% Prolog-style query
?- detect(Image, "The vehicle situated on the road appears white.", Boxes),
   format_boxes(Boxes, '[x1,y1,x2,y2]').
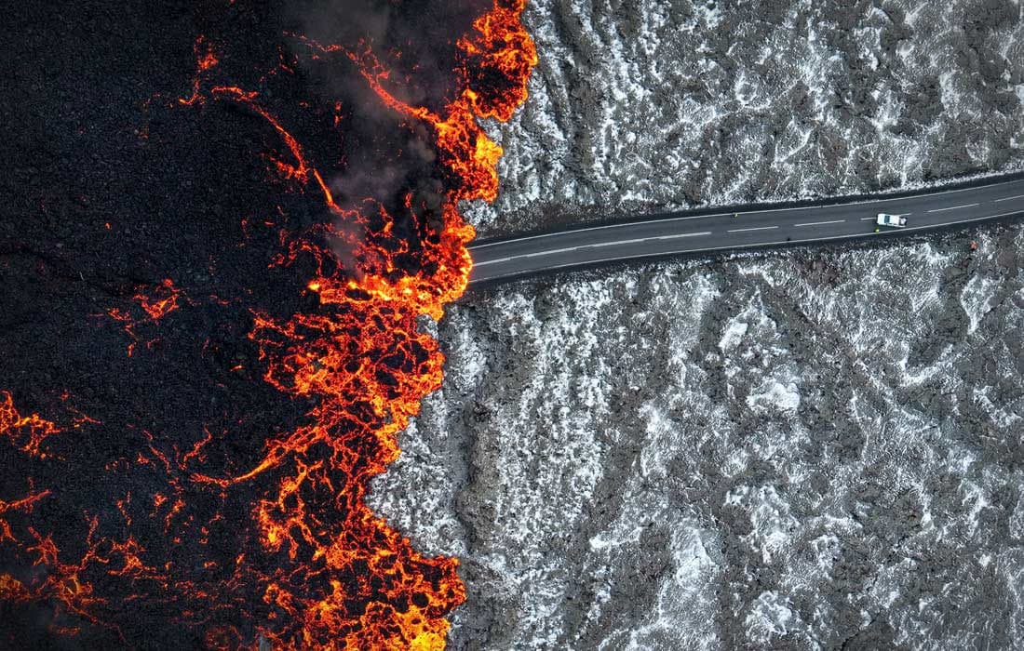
[876,215,908,227]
